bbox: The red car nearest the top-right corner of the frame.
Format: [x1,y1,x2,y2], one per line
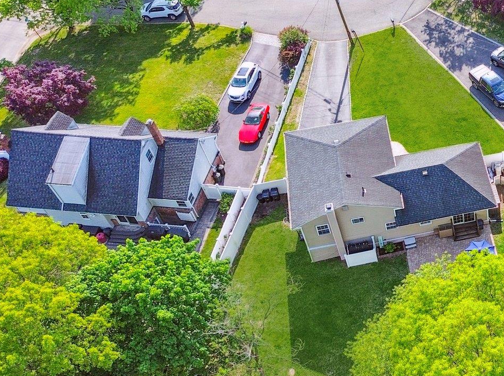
[238,104,272,145]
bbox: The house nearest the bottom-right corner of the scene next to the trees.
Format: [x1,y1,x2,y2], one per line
[283,114,504,263]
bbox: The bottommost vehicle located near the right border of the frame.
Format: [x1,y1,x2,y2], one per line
[468,67,504,109]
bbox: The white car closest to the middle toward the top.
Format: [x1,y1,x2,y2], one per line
[227,60,262,101]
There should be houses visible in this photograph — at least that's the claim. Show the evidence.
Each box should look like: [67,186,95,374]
[5,108,226,251]
[283,114,504,263]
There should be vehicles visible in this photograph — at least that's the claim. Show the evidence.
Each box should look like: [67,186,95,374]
[487,48,504,70]
[135,0,185,21]
[227,60,262,101]
[238,104,272,145]
[468,67,504,109]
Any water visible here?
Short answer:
No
